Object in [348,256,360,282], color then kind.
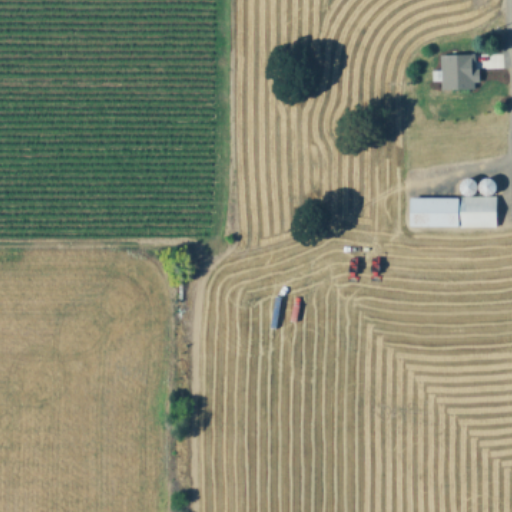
red vehicle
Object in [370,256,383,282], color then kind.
red vehicle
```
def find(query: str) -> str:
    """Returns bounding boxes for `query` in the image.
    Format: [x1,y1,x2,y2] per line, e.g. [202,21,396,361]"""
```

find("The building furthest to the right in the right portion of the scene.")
[462,196,498,228]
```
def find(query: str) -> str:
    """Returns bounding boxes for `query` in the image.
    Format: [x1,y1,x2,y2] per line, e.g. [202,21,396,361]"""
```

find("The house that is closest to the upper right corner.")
[433,54,480,90]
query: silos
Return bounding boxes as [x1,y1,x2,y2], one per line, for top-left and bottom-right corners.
[479,178,498,196]
[460,178,480,196]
